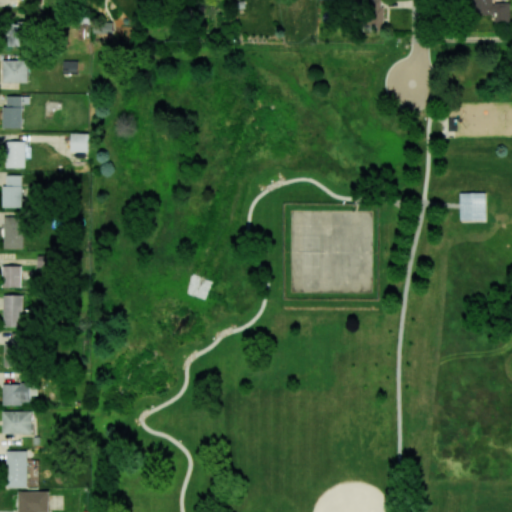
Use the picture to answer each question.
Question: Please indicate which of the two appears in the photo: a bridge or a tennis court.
tennis court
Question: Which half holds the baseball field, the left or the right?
right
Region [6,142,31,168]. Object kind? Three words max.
house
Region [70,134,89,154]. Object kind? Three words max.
building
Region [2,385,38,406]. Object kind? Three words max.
house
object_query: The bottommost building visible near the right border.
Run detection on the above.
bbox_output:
[460,192,487,223]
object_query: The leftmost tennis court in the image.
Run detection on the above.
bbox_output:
[284,210,380,293]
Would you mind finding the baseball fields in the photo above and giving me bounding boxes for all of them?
[313,480,386,512]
